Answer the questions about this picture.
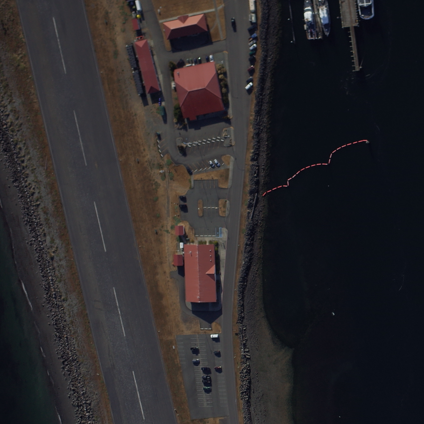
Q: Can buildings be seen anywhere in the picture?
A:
Yes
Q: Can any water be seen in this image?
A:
Yes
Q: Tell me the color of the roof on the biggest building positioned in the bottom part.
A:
red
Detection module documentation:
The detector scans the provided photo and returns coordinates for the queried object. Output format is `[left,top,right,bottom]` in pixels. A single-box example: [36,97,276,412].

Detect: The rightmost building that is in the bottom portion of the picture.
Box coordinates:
[184,244,218,302]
